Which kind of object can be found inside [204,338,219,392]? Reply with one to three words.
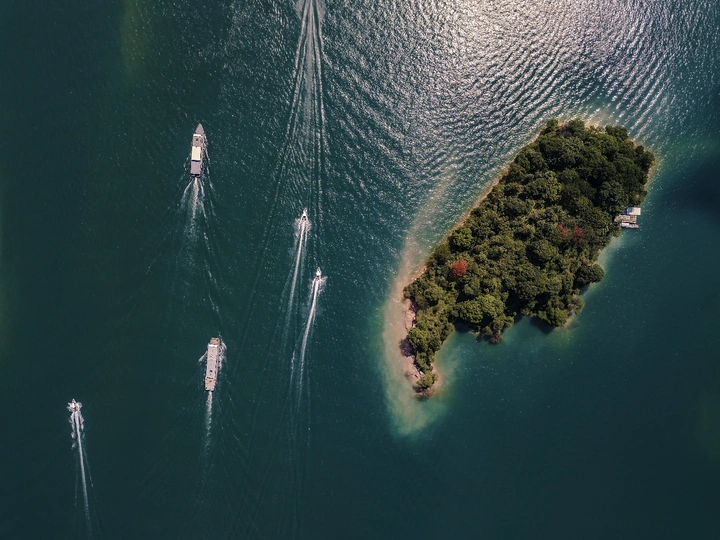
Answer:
ship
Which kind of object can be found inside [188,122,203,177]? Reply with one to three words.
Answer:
ship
